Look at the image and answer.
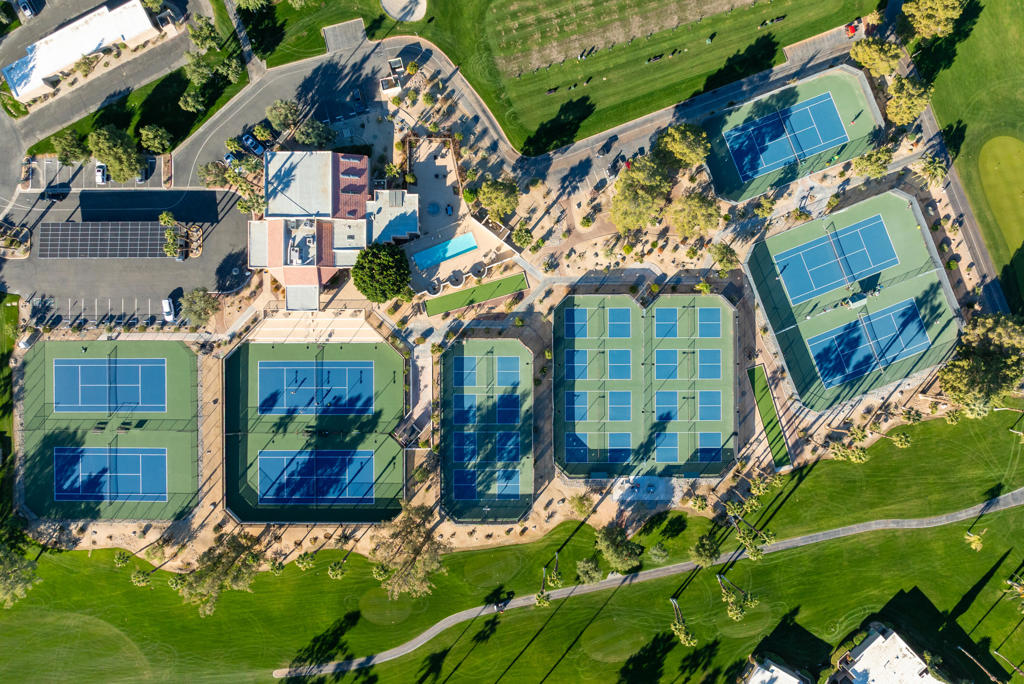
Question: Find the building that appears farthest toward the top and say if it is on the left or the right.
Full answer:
You can find the building that appears farthest toward the top on the left side of the picture.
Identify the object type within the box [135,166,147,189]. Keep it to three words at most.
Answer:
vehicle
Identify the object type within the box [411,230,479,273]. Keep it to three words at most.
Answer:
swimming pool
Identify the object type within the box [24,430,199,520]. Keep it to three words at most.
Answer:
tennis court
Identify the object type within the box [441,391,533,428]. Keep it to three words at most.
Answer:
sports court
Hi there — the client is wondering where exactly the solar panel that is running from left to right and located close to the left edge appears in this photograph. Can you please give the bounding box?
[41,223,178,257]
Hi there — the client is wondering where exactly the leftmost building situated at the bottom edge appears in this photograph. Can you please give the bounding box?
[739,653,807,684]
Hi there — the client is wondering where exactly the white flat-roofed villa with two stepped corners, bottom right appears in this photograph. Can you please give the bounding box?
[838,625,946,684]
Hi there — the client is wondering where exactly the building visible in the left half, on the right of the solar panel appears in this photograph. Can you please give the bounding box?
[247,150,421,311]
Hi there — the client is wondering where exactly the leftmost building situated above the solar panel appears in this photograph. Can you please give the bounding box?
[1,0,167,104]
